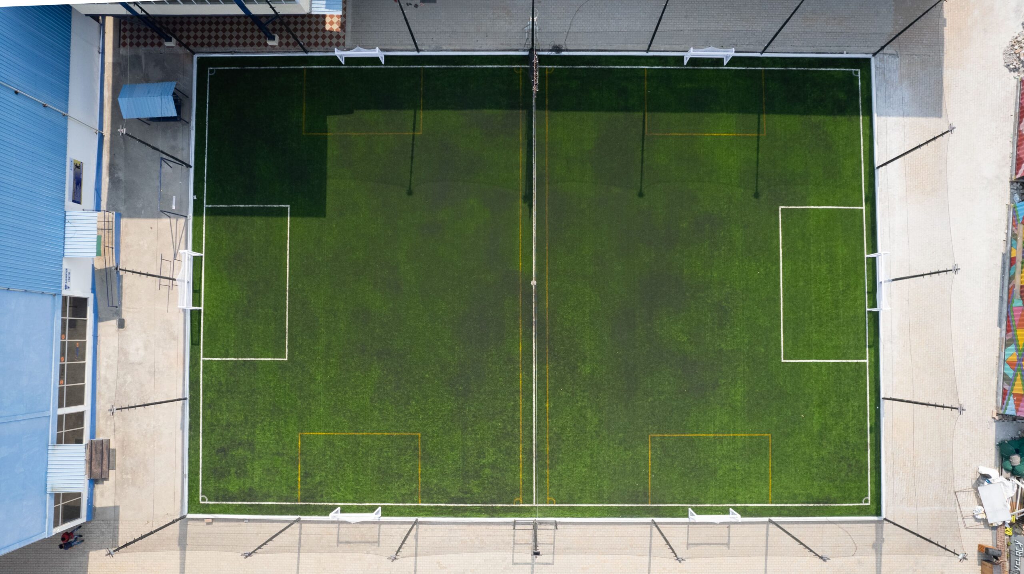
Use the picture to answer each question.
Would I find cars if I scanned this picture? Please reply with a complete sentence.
No, there isn't any car down there.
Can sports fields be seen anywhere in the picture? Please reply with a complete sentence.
Yes, looking at the shot, I can spot a sports field.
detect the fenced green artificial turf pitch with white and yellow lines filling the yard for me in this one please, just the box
[182,53,880,517]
